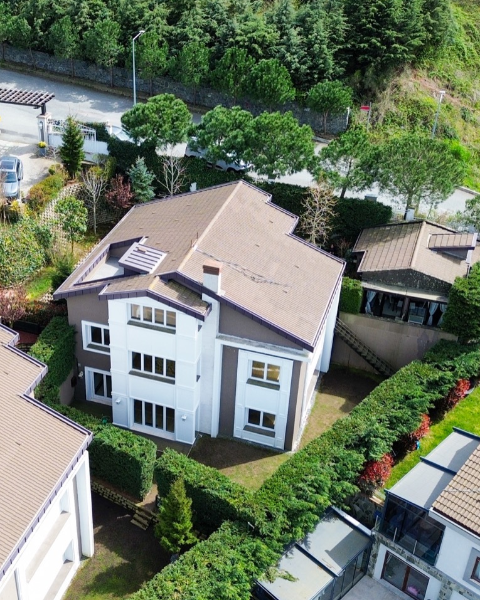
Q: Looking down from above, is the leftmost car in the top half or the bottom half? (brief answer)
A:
top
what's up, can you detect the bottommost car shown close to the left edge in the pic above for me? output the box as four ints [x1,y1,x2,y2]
[0,157,25,196]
